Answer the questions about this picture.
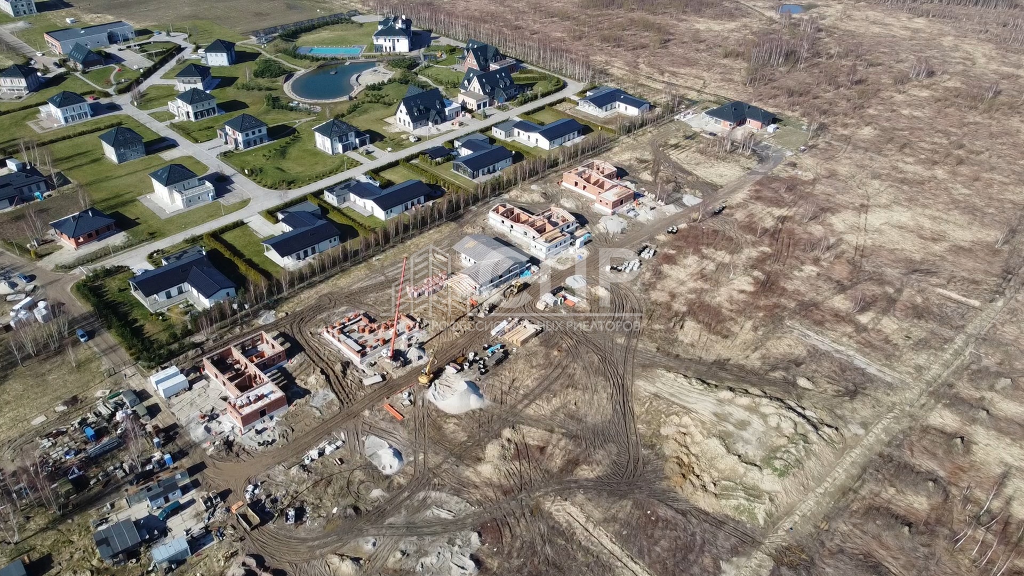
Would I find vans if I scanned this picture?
Yes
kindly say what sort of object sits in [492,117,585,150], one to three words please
house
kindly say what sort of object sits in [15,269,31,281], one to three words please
vehicle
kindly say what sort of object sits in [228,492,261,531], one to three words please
truck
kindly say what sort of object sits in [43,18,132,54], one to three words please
building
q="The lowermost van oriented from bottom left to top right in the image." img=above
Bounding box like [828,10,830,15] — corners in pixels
[156,500,190,528]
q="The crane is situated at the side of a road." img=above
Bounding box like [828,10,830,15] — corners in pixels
[367,255,411,371]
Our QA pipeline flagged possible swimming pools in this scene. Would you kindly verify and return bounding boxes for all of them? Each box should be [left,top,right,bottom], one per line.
[296,44,363,57]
